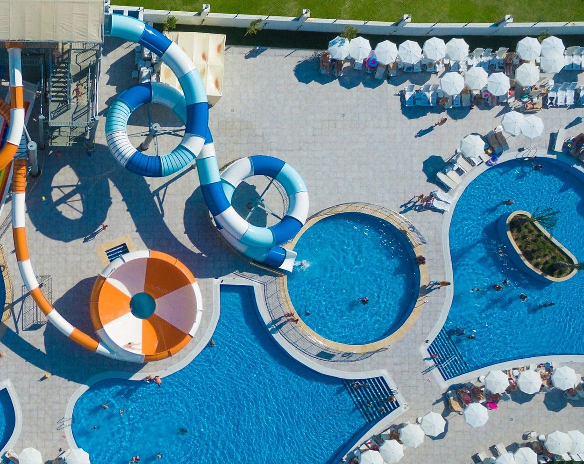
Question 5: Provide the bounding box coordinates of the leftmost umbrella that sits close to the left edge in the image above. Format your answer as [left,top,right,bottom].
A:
[19,446,43,464]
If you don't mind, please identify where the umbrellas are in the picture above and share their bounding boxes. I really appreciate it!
[463,67,487,92]
[509,445,536,464]
[516,37,540,62]
[488,450,515,464]
[481,71,510,97]
[396,41,422,67]
[67,448,91,464]
[454,133,484,159]
[444,39,467,62]
[549,366,575,392]
[514,368,542,394]
[478,368,508,394]
[535,56,563,76]
[536,37,563,58]
[537,429,568,455]
[515,116,544,141]
[19,446,43,464]
[565,428,584,453]
[509,64,538,89]
[325,36,350,61]
[460,402,488,428]
[373,40,397,65]
[419,36,445,62]
[347,37,371,61]
[377,439,402,463]
[494,112,522,137]
[437,72,464,98]
[398,423,423,448]
[418,410,444,435]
